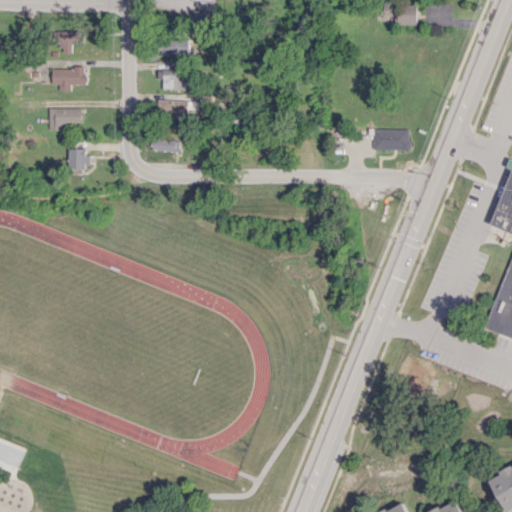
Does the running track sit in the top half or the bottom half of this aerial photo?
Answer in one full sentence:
The running track is in the bottom half of the image.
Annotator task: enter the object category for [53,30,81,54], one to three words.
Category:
house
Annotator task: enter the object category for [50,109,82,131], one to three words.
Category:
house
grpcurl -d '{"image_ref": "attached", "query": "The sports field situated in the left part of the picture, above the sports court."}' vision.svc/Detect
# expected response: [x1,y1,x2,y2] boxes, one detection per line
[0,227,254,438]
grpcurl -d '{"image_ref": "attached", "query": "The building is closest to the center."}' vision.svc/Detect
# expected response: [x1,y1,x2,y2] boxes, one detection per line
[152,138,182,153]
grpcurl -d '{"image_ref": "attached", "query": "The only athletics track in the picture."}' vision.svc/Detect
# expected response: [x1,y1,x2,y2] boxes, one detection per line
[0,210,271,480]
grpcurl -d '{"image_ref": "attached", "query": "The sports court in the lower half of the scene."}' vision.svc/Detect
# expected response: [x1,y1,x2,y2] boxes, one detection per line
[0,438,27,478]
